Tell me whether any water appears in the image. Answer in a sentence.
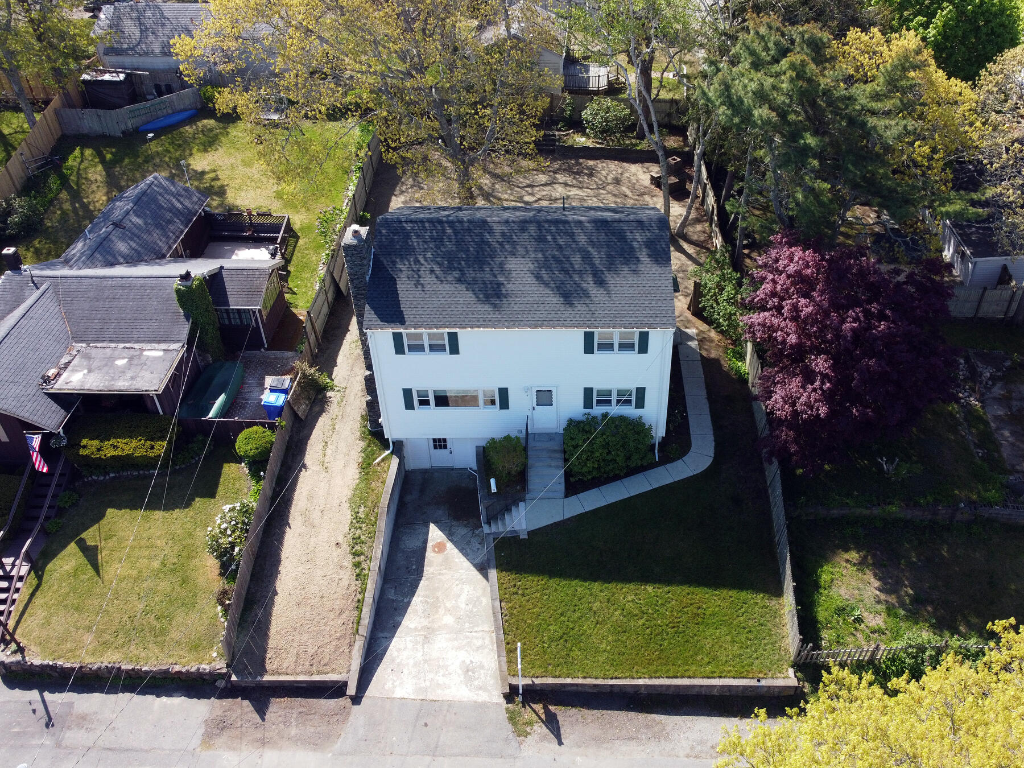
No, the picture contains no water.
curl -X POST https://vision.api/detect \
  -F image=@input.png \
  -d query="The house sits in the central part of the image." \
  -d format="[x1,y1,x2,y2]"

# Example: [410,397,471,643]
[338,207,678,468]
